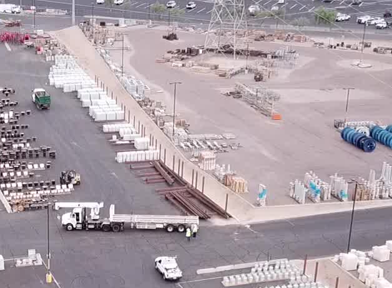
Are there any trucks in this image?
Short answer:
Yes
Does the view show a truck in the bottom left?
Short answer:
Yes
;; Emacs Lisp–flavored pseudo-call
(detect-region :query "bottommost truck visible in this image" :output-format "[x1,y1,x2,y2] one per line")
[152,252,187,279]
